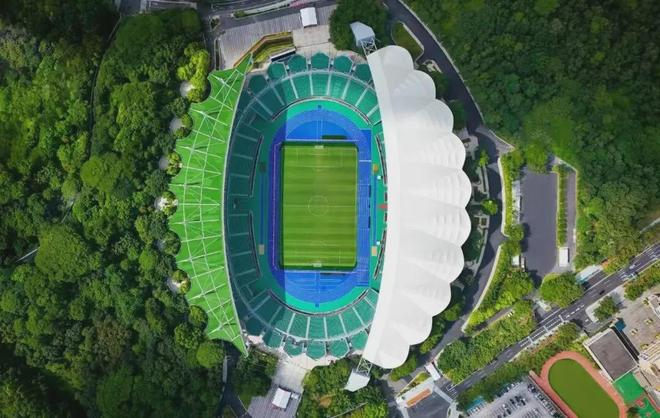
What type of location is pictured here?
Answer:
sports ground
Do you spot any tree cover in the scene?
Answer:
Yes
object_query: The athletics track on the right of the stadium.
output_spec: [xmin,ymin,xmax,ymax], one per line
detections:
[532,350,632,418]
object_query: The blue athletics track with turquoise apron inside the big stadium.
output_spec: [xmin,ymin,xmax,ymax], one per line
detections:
[239,99,387,312]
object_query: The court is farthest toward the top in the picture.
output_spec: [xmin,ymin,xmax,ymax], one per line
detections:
[614,371,643,403]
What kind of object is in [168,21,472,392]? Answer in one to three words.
stadium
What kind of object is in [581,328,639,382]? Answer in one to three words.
building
